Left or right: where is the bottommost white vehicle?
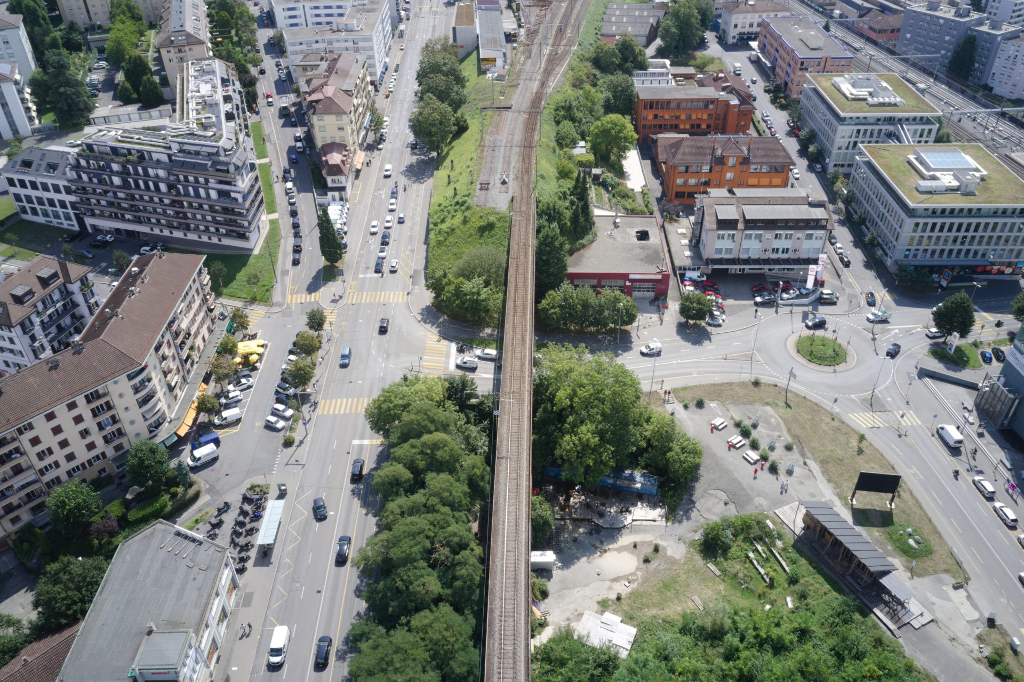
left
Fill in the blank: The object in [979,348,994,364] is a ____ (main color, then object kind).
blue car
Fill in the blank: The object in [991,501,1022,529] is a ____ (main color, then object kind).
white car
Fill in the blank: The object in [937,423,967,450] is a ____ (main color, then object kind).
white vehicle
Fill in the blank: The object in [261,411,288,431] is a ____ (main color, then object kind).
white car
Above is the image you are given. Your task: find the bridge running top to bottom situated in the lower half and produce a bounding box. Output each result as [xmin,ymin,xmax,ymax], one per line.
[479,200,537,682]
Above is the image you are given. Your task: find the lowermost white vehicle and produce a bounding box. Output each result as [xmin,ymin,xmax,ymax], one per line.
[264,620,290,667]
